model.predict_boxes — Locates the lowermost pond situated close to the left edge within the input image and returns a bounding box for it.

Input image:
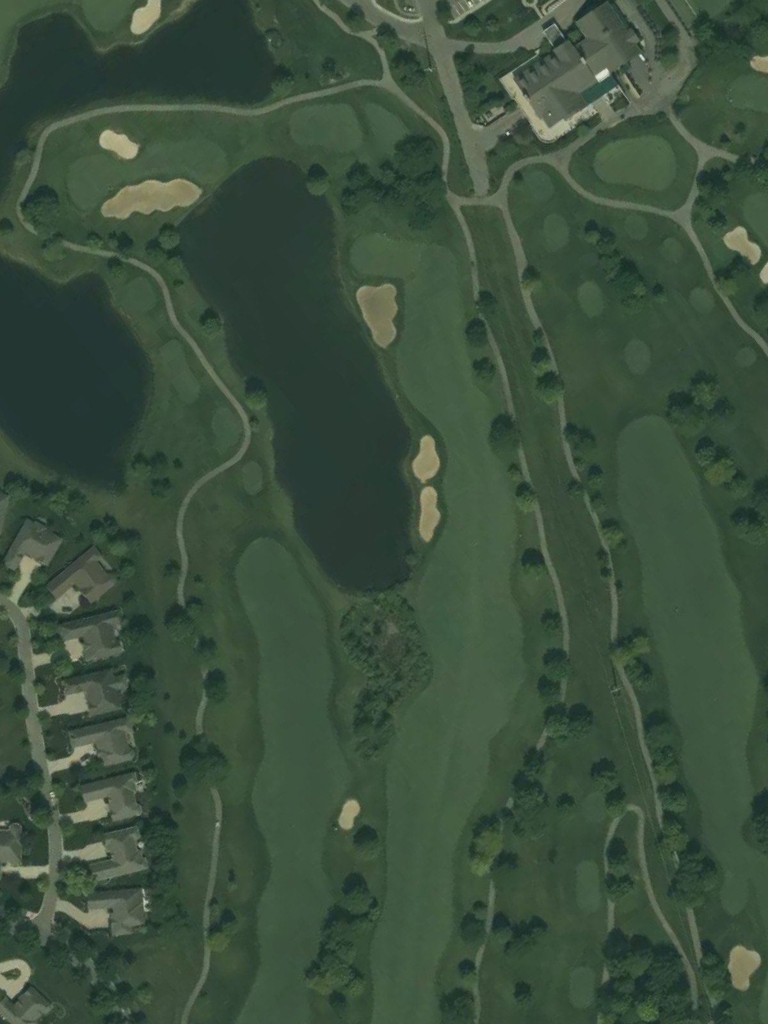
[0,261,151,486]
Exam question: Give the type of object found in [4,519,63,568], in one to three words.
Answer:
house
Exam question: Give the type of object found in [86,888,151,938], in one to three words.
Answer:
house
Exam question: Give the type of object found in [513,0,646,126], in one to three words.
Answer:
building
